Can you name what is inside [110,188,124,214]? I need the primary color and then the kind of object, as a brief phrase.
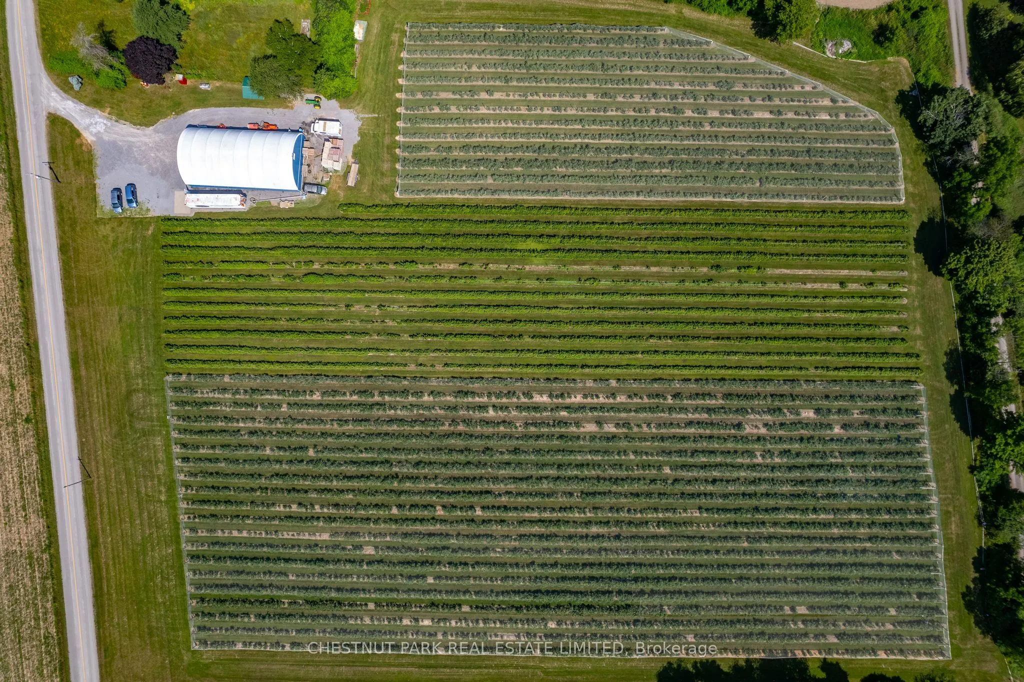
blue car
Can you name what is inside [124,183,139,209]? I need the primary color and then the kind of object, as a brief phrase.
blue car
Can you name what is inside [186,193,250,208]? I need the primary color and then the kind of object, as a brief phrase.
white trailer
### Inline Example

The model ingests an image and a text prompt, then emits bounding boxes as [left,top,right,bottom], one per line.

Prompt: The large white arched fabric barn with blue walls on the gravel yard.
[176,126,304,195]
